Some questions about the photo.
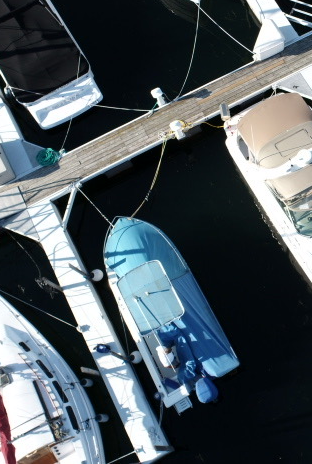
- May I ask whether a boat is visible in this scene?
Yes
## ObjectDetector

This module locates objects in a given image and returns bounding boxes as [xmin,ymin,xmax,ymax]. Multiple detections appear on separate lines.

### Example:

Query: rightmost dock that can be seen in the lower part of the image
[32,194,172,464]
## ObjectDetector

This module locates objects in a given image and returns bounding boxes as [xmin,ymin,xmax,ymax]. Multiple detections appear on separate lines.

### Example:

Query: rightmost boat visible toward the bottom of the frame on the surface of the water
[105,210,239,414]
